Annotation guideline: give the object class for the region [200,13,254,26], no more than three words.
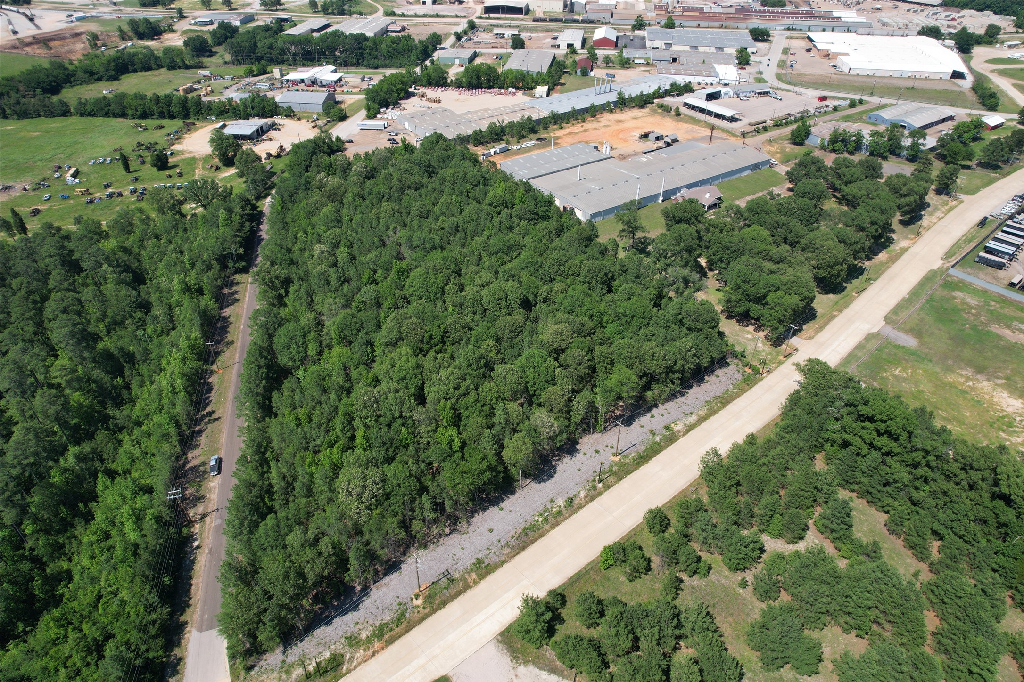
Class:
building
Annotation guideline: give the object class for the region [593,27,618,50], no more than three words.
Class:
barn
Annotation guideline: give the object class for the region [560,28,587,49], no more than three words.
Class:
shed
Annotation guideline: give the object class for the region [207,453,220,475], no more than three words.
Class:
vehicle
